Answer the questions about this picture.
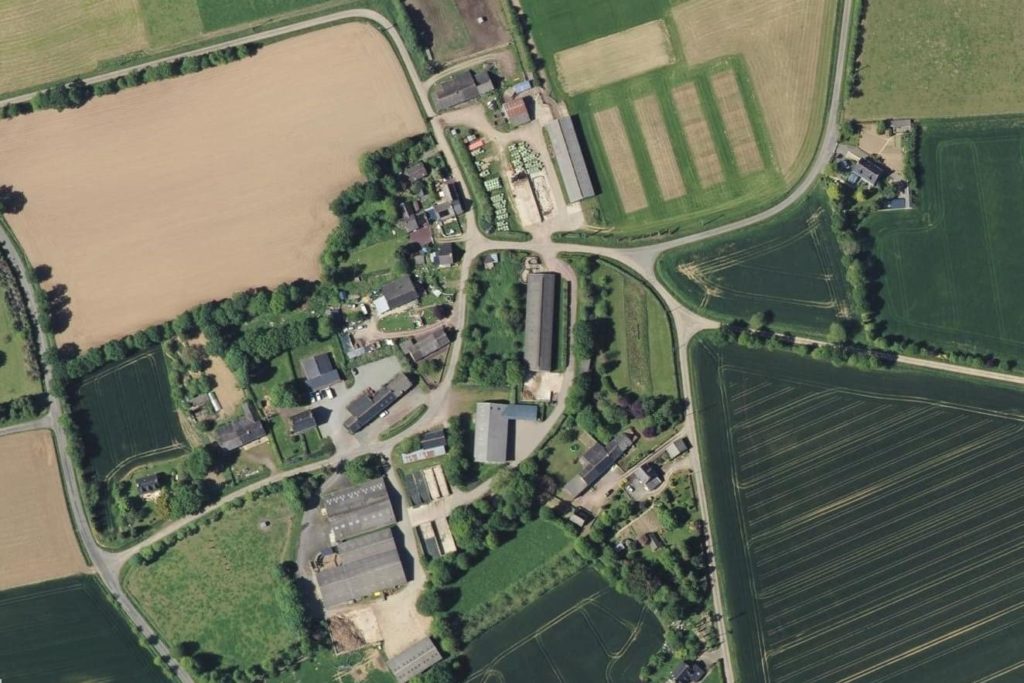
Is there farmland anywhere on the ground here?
Yes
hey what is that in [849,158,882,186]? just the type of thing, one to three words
house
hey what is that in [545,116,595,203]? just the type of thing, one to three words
building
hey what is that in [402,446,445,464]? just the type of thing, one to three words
shed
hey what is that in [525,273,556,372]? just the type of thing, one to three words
barn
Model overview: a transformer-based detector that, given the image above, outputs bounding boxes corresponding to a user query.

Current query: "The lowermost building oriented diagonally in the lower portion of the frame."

[387,637,442,683]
